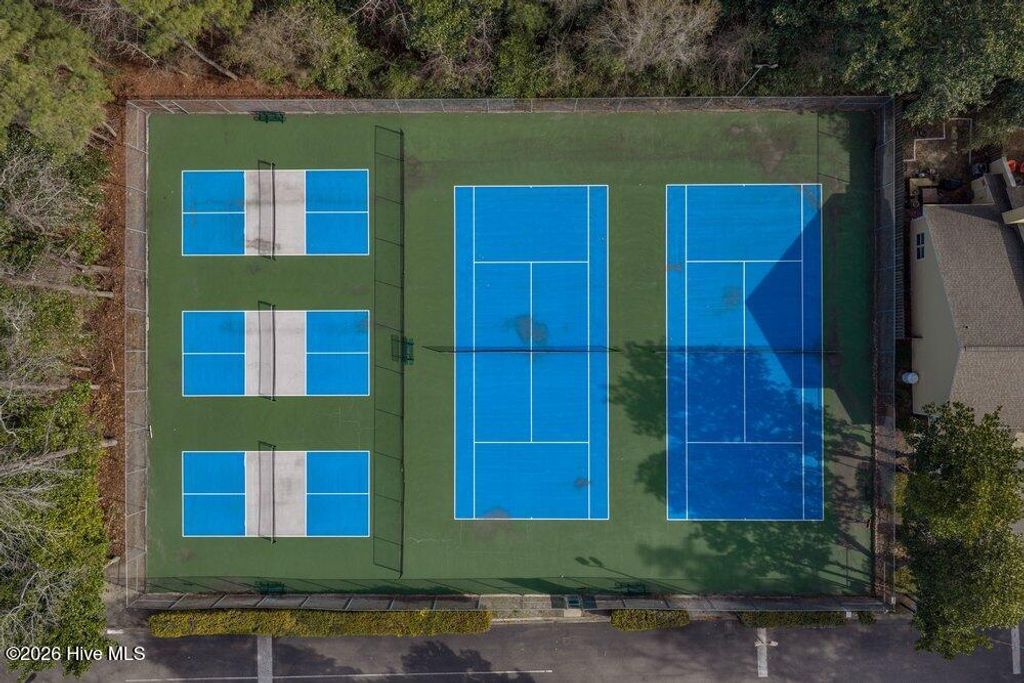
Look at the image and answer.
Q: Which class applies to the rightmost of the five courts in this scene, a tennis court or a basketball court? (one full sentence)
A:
From above, the rightmost of the five courts can be identified as a tennis court.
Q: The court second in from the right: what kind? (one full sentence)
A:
It turns out the court second in from the right is a tennis court.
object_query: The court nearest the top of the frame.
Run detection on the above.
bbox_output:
[183,170,369,256]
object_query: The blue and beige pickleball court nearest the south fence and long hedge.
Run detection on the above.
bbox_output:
[183,451,369,537]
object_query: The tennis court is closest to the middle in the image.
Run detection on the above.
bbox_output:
[455,185,609,520]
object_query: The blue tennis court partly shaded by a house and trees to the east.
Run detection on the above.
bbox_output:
[667,184,823,521]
